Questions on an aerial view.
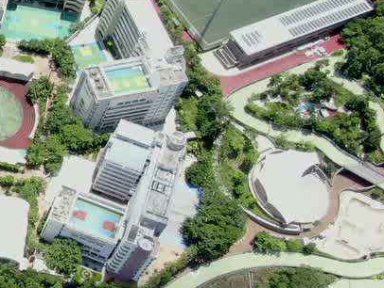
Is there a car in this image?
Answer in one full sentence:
No, the scene contains no car.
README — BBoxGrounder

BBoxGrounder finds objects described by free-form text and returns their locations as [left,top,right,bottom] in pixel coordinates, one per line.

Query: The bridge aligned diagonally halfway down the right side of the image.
[345,157,384,186]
